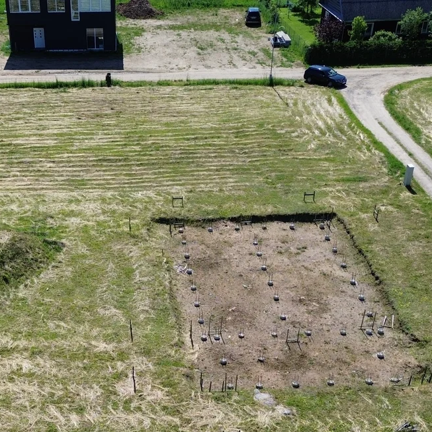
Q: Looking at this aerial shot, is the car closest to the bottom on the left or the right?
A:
right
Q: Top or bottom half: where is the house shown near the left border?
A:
top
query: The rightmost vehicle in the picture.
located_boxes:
[301,61,349,86]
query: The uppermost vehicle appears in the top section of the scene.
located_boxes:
[242,1,263,20]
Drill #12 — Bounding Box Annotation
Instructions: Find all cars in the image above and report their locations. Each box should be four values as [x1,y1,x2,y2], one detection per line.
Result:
[242,1,263,20]
[301,61,349,86]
